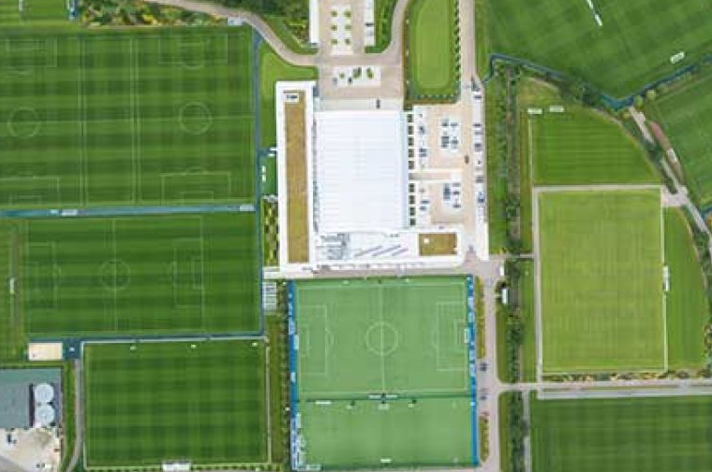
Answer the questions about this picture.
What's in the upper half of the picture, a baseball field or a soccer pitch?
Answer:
soccer pitch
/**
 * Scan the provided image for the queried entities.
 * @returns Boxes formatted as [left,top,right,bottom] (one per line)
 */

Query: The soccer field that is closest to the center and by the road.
[295,277,471,398]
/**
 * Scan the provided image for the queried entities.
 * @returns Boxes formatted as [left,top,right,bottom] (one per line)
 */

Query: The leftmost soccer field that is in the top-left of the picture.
[0,27,109,209]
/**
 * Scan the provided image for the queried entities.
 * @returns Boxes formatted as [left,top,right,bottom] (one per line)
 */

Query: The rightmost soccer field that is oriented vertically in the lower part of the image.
[666,209,705,370]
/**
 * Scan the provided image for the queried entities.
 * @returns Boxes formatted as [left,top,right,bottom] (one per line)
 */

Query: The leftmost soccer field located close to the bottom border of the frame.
[83,339,267,470]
